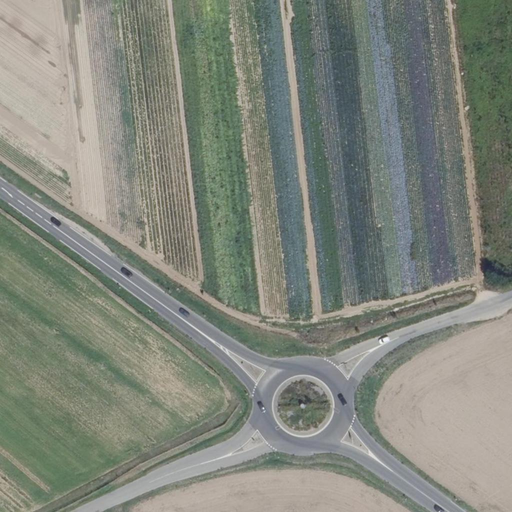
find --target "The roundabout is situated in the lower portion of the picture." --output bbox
[240,346,358,454]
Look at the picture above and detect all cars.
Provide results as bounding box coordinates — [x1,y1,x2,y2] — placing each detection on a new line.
[434,504,445,512]
[50,216,62,226]
[338,393,347,406]
[258,401,266,412]
[378,336,390,344]
[179,308,190,317]
[121,267,132,276]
